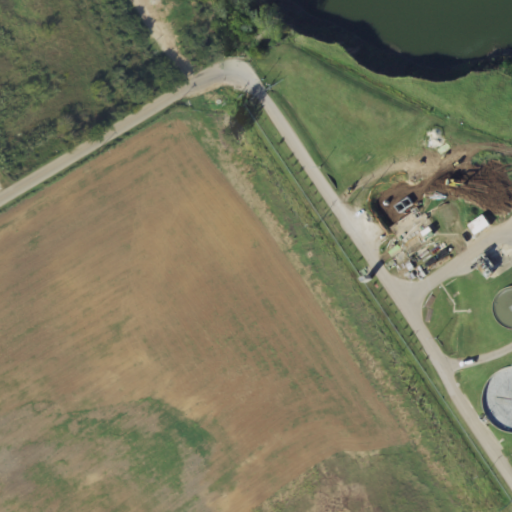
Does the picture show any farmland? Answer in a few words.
Yes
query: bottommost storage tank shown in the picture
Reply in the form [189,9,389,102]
[482,366,512,432]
